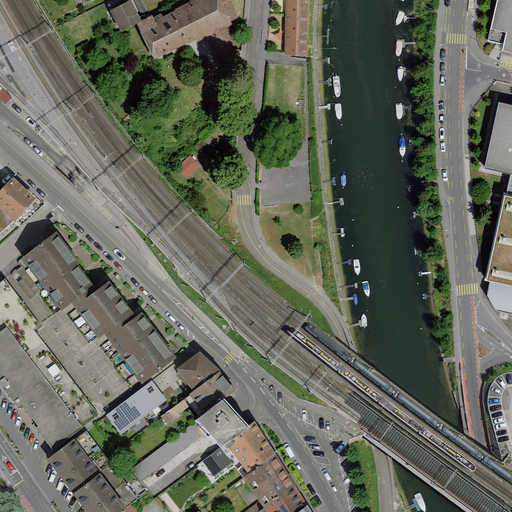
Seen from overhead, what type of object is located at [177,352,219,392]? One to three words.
house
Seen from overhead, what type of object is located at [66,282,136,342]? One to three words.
building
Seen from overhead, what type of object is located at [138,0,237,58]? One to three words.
house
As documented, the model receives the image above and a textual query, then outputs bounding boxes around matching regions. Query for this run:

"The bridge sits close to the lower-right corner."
[334,337,512,512]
